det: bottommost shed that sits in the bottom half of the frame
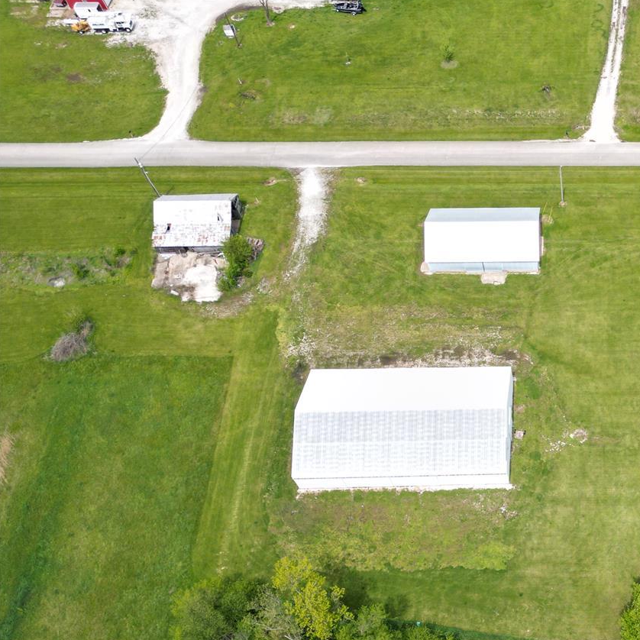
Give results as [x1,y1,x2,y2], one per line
[288,363,513,493]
